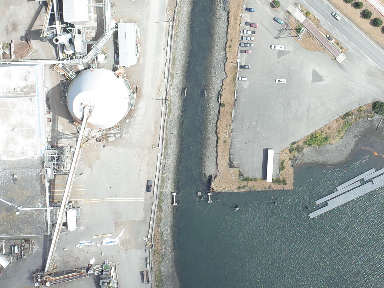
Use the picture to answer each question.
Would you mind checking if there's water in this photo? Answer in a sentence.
Yes, the picture does contain water.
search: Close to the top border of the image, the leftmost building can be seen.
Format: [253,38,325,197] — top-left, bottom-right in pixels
[62,0,98,22]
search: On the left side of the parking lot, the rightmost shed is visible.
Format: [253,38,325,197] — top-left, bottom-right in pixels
[117,22,138,66]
